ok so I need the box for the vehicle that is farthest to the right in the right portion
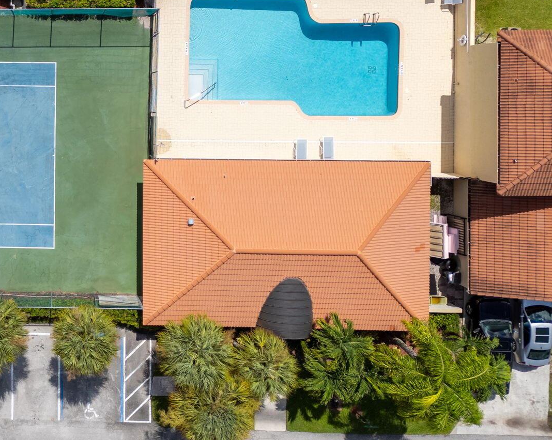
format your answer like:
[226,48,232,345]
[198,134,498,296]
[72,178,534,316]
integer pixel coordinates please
[518,301,552,370]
